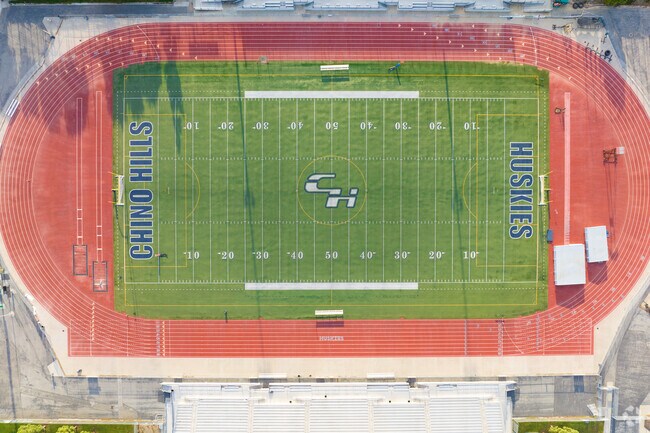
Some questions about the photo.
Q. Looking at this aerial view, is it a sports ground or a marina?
sports ground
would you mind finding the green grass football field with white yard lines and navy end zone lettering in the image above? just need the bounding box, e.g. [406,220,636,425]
[114,60,548,319]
